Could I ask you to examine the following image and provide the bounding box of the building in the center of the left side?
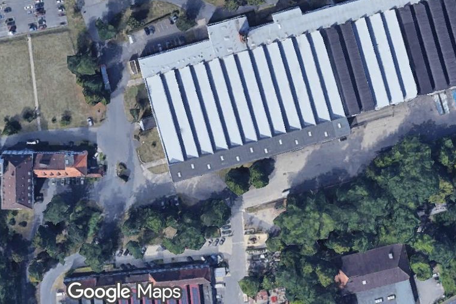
[0,150,102,209]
